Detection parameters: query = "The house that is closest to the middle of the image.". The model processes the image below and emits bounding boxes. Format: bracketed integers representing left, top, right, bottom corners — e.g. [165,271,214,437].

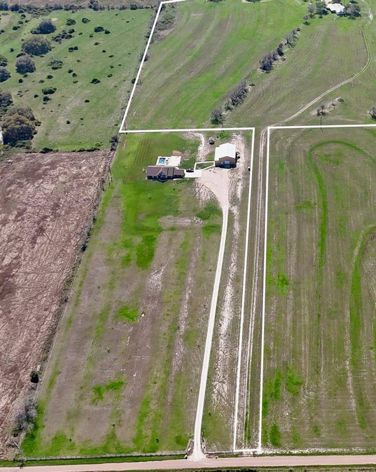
[146,163,189,184]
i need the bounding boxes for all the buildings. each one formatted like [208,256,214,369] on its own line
[146,163,189,184]
[213,141,238,167]
[327,0,348,14]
